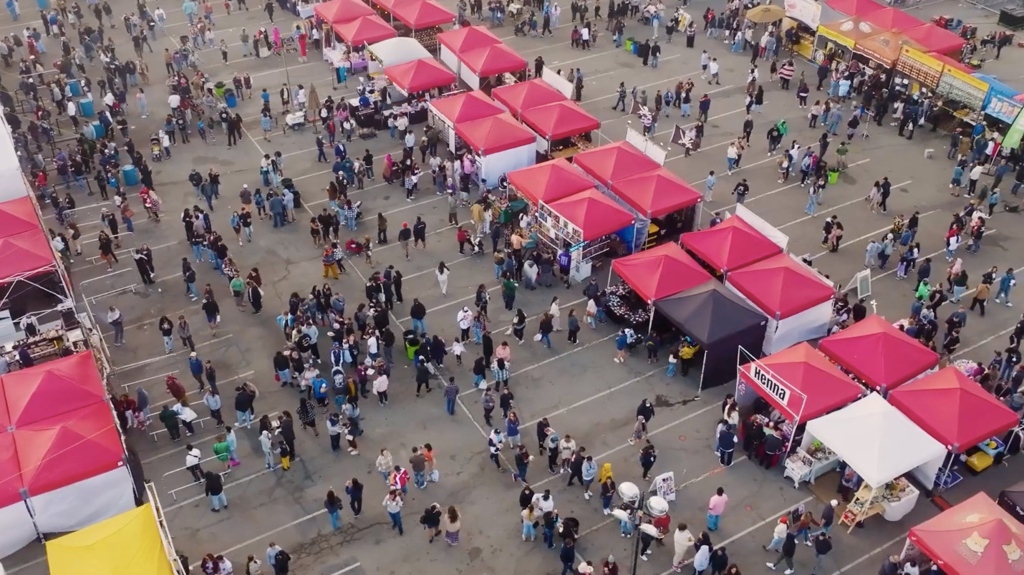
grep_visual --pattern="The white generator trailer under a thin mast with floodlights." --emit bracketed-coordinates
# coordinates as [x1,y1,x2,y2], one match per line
[266,34,314,134]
